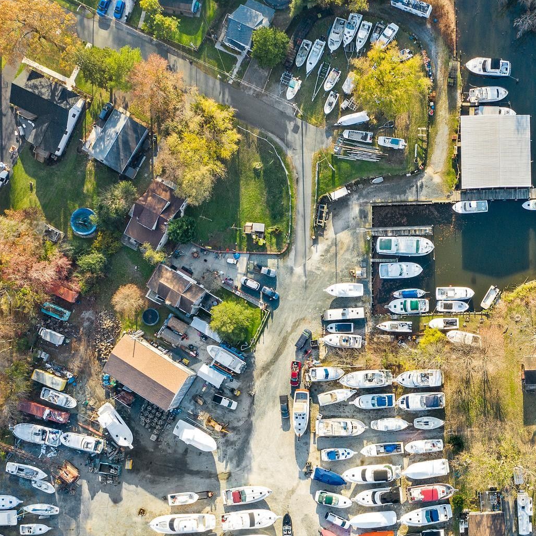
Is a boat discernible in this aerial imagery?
Yes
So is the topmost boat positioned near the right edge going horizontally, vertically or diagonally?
horizontally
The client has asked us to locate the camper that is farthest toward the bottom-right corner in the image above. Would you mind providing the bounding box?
[516,492,532,534]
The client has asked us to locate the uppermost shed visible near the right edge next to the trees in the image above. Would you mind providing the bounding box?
[460,113,531,192]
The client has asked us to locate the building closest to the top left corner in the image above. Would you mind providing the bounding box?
[9,68,89,159]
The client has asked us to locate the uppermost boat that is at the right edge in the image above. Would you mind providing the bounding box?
[465,57,513,78]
